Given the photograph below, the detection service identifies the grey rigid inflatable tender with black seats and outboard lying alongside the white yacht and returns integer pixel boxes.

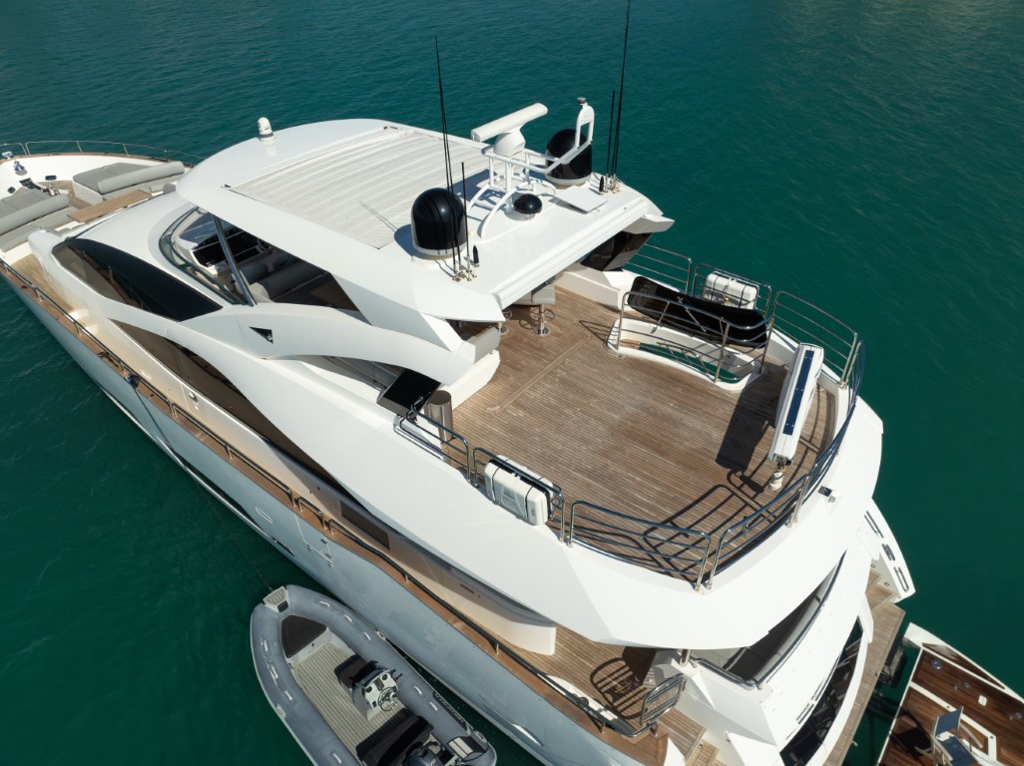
[253,580,505,766]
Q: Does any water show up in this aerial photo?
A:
Yes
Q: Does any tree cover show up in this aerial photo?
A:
No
